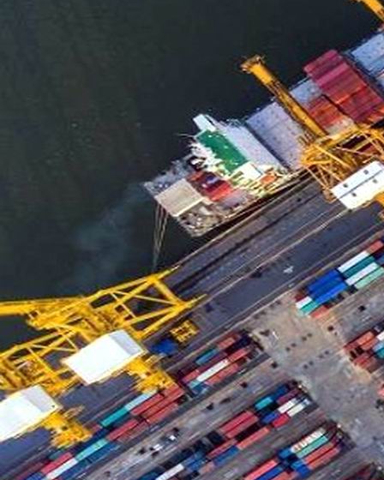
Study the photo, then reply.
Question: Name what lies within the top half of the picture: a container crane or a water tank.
container crane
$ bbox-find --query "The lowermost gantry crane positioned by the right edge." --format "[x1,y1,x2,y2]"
[231,60,384,229]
